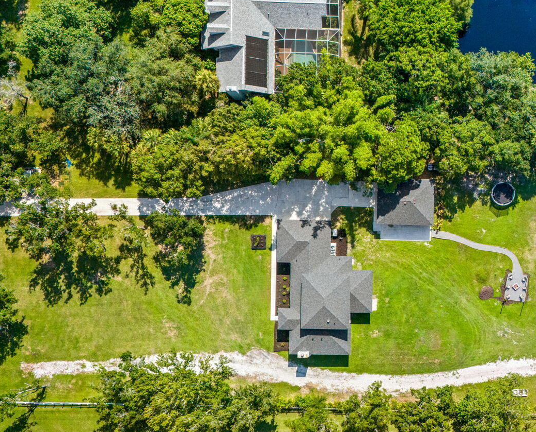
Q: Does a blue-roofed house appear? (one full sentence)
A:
No, no blue-roofed house is visible in the view.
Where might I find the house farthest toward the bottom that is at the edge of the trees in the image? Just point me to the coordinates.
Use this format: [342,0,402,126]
[276,219,373,359]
